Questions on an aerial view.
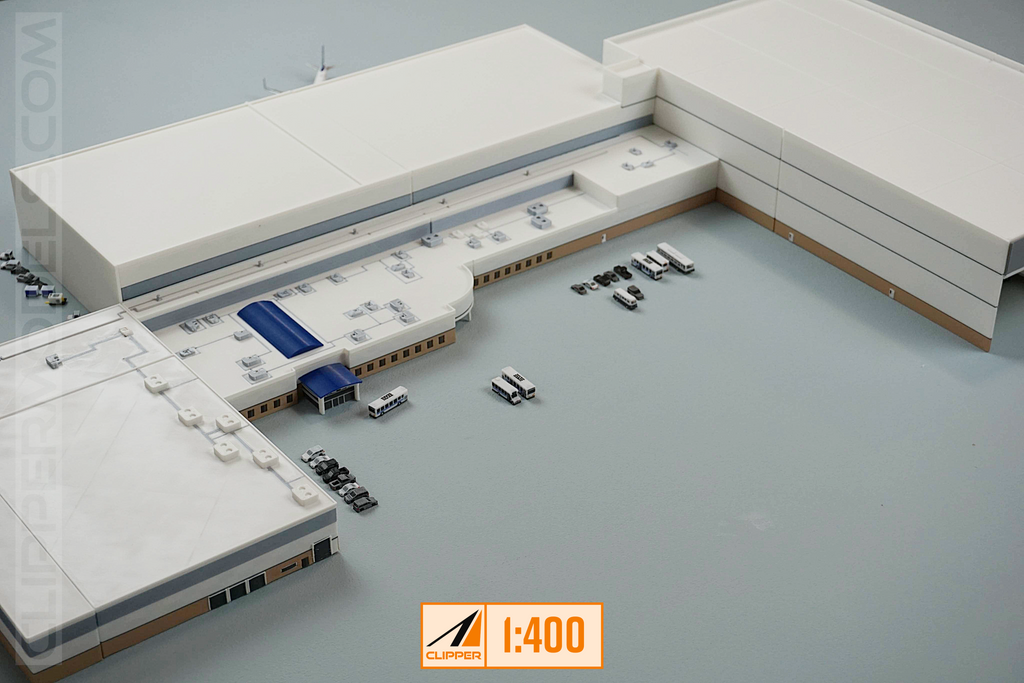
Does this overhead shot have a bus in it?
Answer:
Yes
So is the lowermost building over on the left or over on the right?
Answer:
left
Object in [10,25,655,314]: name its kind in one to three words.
hangar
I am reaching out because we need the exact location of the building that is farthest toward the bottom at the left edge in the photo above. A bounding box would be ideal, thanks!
[0,305,338,683]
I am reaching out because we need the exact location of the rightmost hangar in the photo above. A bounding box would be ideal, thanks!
[601,0,1024,351]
